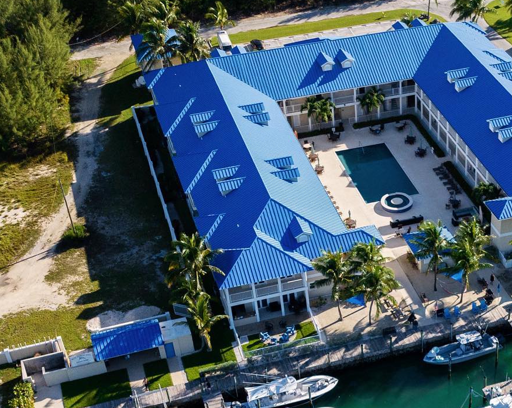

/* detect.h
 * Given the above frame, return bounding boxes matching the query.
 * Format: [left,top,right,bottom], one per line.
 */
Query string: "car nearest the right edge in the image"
[252,35,265,50]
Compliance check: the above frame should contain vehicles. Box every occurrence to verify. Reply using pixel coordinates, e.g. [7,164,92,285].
[215,25,233,50]
[252,35,265,50]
